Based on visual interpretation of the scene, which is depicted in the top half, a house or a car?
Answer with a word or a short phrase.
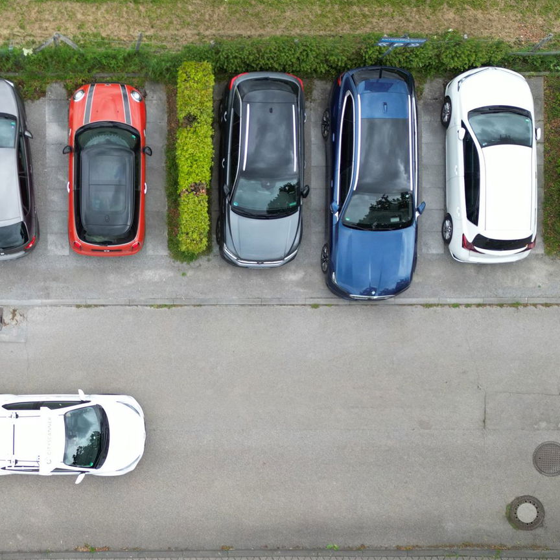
car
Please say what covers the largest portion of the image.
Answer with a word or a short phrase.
paved ground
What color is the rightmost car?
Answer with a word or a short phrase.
white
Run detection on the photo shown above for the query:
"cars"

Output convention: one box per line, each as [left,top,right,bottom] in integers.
[323,70,430,300]
[0,77,42,261]
[60,83,155,258]
[0,387,146,484]
[217,74,316,269]
[443,67,548,264]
